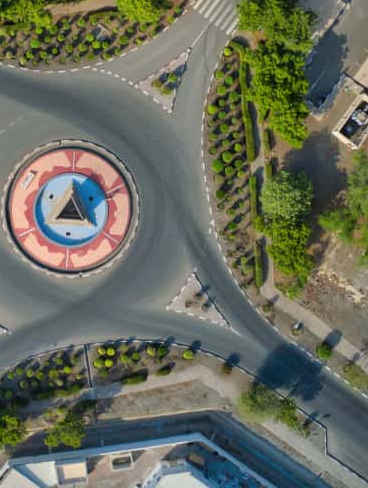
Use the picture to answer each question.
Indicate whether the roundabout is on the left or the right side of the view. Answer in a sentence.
The roundabout is on the left side of the image.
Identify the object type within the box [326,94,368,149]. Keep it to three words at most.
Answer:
building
